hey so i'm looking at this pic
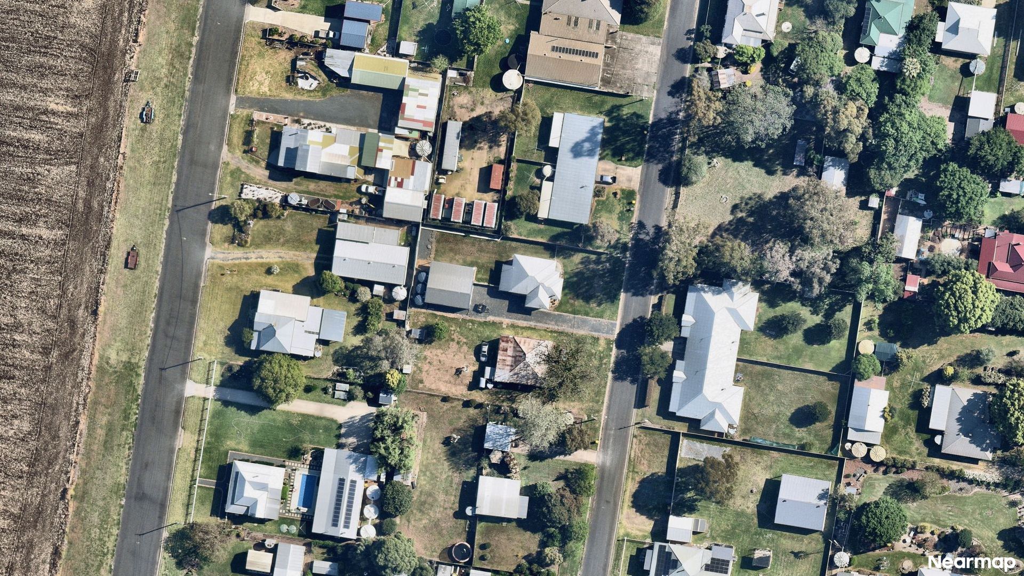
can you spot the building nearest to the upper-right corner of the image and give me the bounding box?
[940,2,998,55]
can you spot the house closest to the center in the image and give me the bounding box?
[499,253,564,310]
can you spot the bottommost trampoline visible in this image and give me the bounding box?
[452,543,471,562]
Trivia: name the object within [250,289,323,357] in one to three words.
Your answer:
house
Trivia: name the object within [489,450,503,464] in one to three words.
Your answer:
gazebo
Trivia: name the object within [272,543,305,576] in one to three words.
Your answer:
shed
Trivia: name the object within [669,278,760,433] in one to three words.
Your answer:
building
